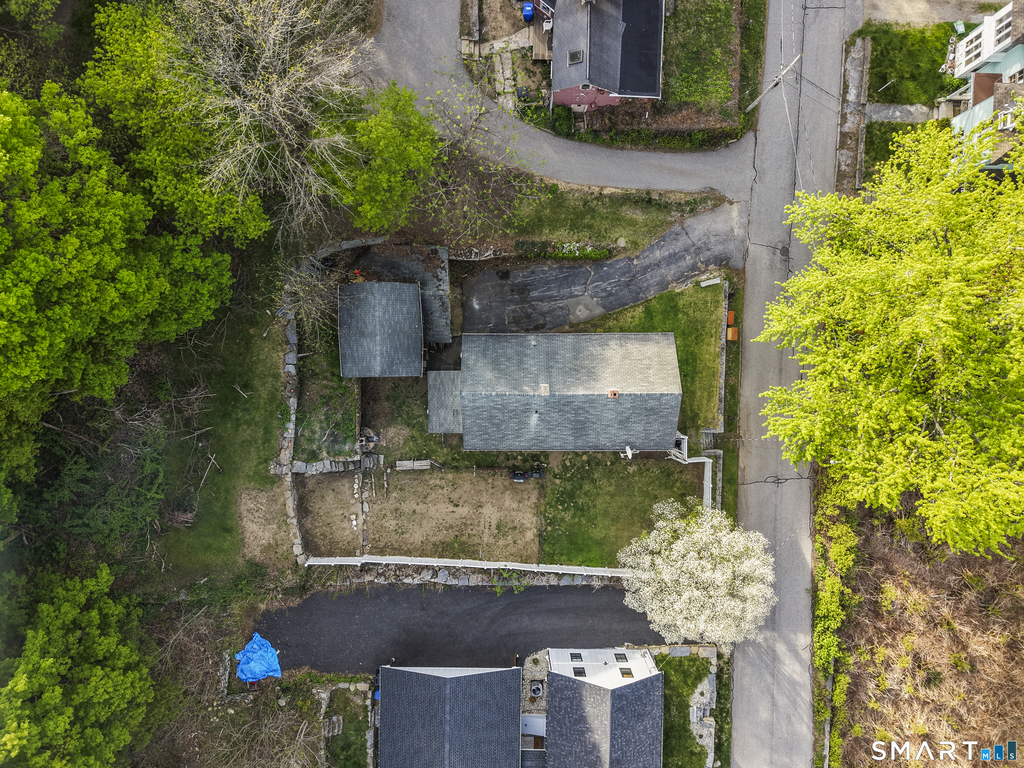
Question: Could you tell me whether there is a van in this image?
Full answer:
No, the frame has no van in it.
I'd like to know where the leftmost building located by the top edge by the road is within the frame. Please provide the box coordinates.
[529,0,664,116]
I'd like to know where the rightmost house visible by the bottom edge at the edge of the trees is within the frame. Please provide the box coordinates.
[521,650,664,768]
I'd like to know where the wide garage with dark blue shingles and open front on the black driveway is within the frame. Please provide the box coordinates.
[378,650,522,768]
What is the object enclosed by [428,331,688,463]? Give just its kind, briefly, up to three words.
house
